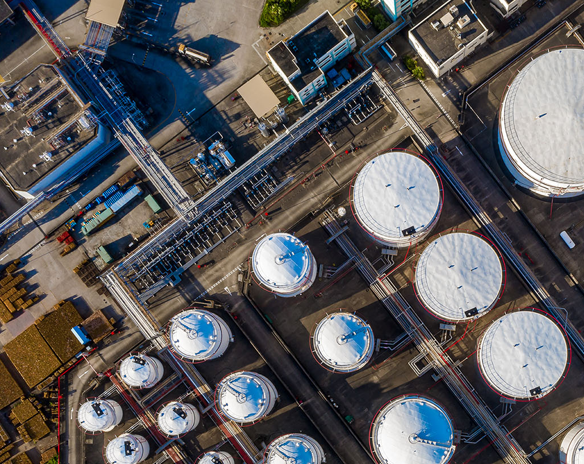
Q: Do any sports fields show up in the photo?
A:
No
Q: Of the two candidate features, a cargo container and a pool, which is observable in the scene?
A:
cargo container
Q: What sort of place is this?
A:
industrial area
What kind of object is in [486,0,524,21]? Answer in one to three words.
building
